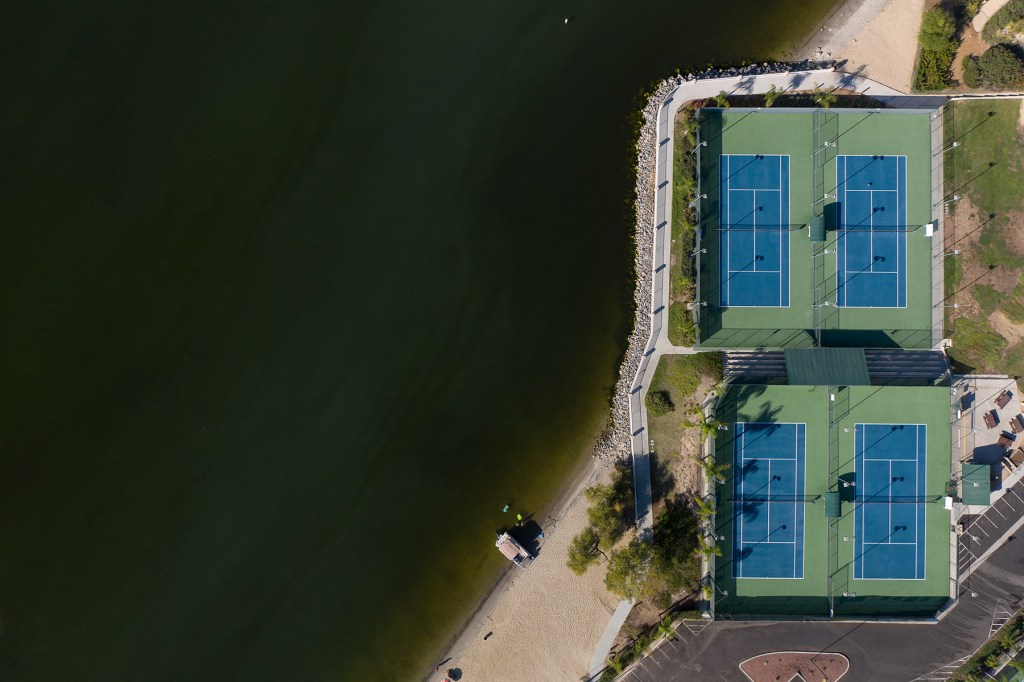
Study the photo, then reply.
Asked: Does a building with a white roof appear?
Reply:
No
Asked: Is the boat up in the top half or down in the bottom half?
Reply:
bottom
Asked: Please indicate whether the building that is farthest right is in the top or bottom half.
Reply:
bottom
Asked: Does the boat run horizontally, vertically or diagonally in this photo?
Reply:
diagonally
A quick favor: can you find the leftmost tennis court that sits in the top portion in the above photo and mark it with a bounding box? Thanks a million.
[695,114,813,347]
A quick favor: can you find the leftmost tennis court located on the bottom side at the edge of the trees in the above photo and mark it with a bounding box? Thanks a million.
[710,384,829,615]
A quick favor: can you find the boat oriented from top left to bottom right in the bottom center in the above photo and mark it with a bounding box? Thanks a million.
[496,532,534,568]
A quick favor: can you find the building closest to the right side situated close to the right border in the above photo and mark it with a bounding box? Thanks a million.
[953,462,990,505]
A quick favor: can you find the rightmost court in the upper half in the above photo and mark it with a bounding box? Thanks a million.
[813,114,931,347]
